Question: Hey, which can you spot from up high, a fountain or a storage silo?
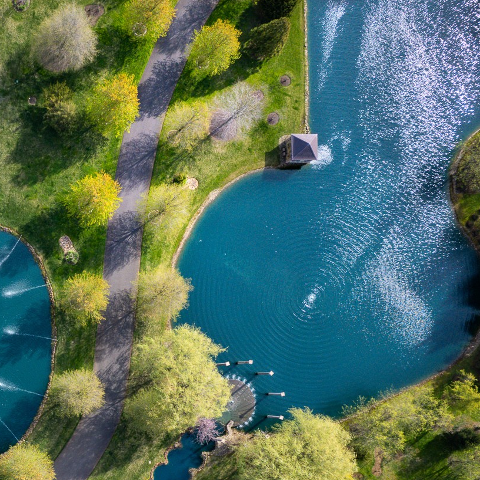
fountain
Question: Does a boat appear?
No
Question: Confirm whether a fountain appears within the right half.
Yes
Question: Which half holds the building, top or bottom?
top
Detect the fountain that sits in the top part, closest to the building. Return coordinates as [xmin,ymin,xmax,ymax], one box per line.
[304,140,338,170]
